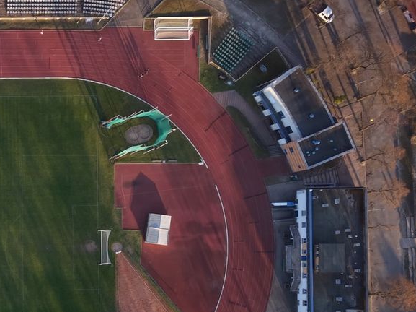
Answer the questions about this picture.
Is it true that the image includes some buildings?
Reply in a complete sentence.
Yes, a building can be made out from above.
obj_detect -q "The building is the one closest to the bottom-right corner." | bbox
[297,187,369,312]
